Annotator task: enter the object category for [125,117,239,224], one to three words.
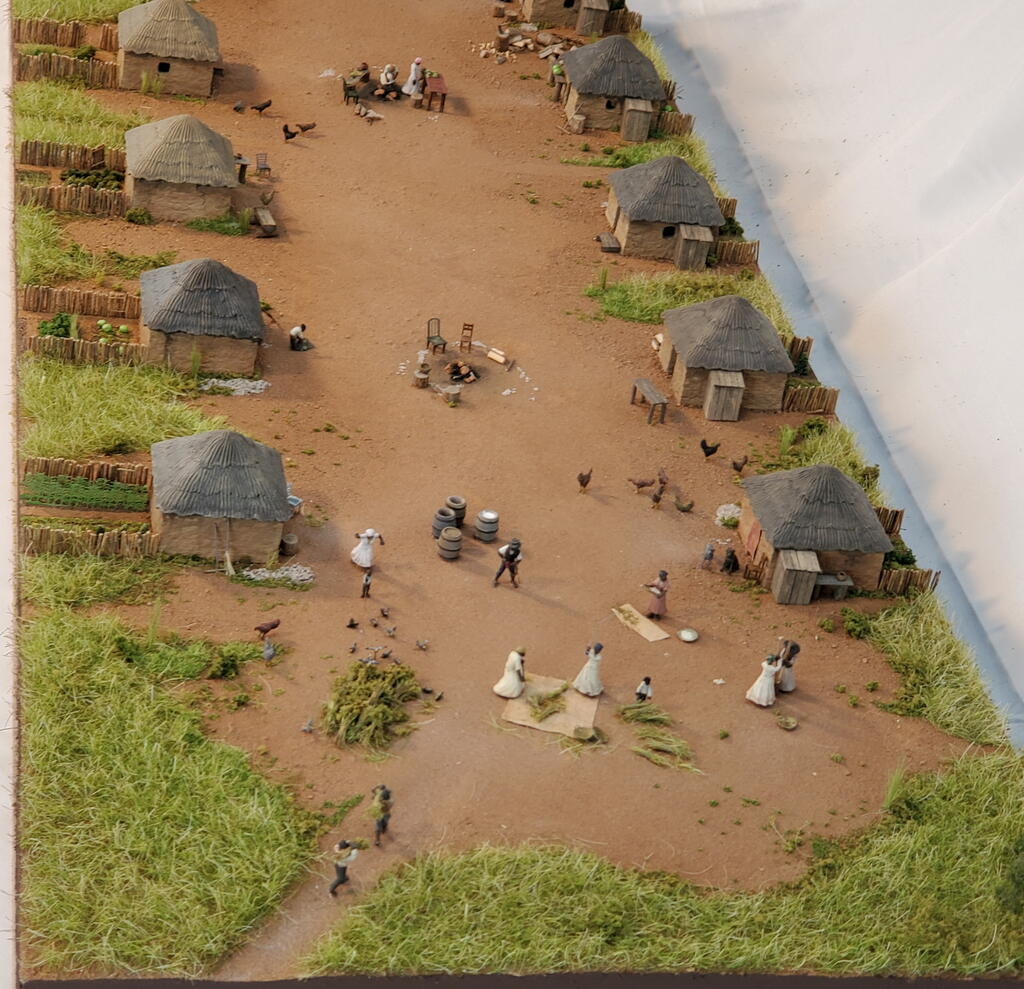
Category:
shed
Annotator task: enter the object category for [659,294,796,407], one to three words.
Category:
shed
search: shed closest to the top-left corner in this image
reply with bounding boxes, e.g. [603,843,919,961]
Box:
[113,0,217,94]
